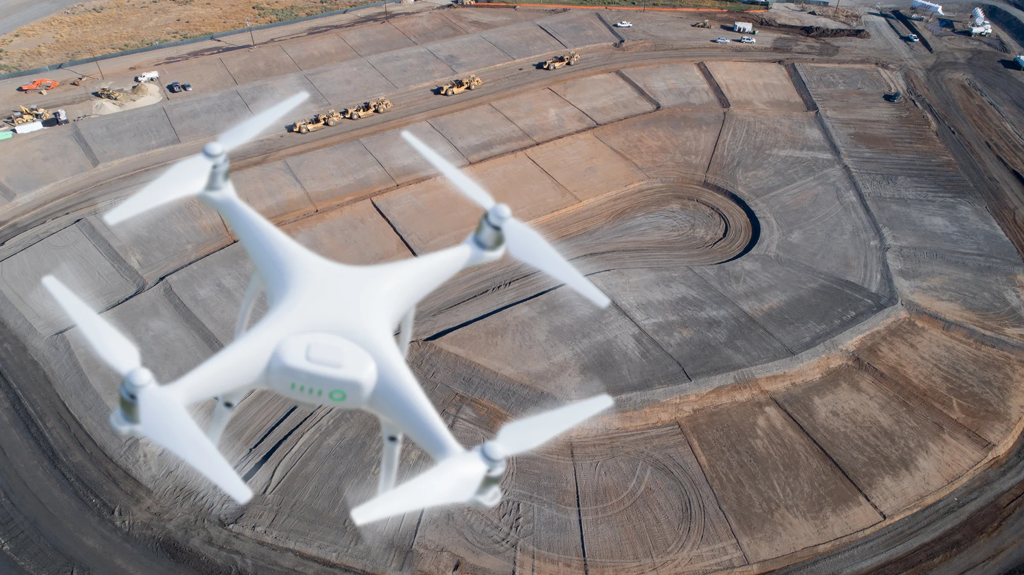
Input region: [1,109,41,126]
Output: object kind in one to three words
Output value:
work vehicle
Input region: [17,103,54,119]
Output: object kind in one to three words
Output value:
work vehicle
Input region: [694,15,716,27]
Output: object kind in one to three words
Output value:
vehicle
